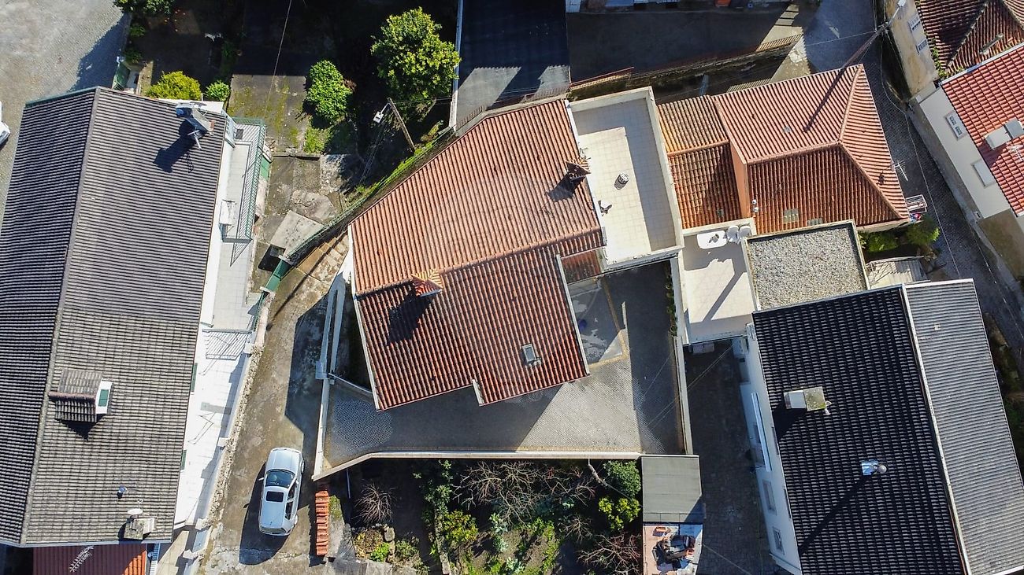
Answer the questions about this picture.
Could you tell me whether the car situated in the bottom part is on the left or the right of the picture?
left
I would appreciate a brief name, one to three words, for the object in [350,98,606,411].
house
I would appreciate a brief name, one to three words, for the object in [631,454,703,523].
shed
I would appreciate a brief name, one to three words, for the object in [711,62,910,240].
house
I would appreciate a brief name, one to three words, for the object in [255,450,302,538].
car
